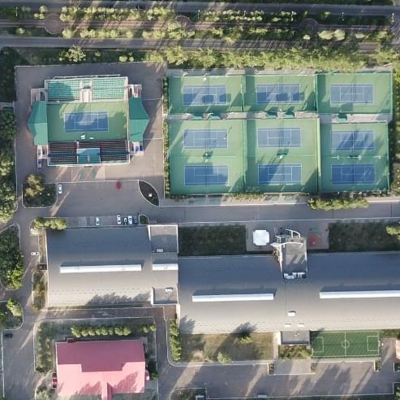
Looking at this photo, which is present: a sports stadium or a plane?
sports stadium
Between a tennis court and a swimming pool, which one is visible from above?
tennis court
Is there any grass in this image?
Yes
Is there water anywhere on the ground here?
No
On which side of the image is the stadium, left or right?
left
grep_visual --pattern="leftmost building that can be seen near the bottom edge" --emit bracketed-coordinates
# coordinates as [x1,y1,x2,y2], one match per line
[52,337,150,400]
